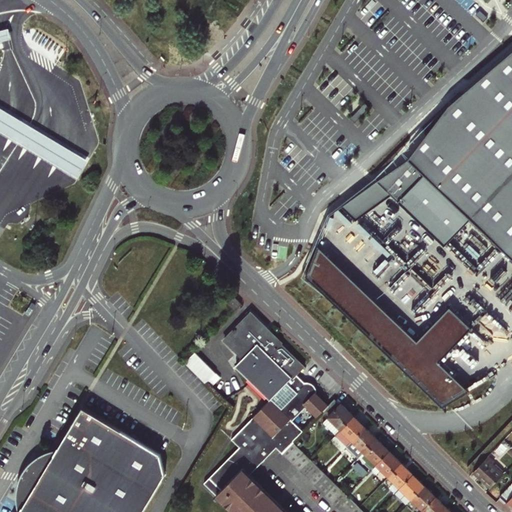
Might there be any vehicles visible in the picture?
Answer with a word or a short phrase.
Yes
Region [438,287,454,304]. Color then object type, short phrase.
white vehicle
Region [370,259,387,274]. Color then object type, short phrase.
white vehicle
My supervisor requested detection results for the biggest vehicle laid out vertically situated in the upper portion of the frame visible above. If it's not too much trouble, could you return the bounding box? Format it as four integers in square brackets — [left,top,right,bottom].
[232,131,245,162]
